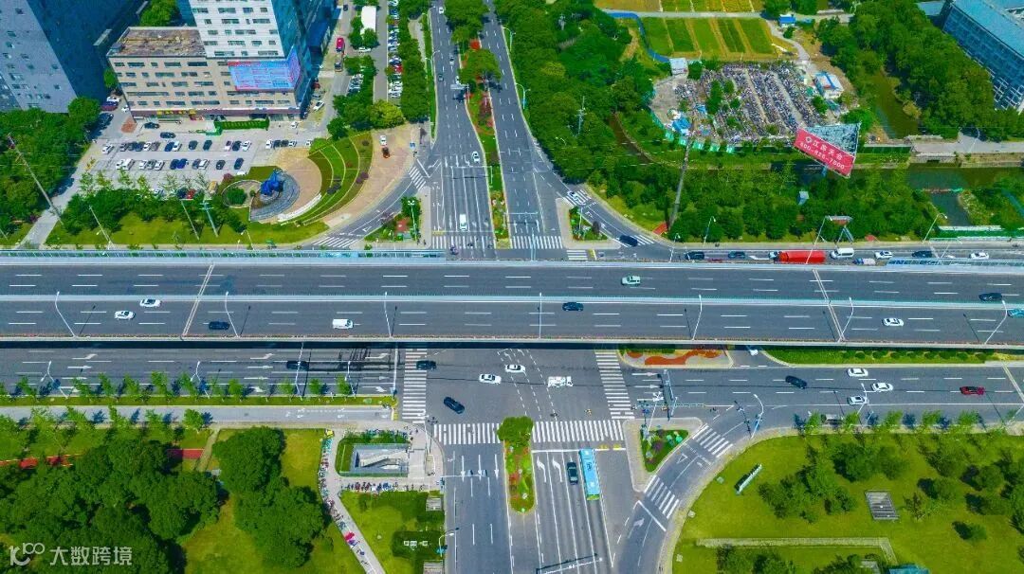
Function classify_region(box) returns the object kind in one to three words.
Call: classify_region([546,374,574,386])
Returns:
vehicle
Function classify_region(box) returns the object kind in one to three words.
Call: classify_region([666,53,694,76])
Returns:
shed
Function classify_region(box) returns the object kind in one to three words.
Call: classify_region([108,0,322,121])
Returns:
building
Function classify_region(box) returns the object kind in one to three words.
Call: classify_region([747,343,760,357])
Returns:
vehicle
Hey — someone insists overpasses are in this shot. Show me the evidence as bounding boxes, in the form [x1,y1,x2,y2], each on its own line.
[0,251,1024,347]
